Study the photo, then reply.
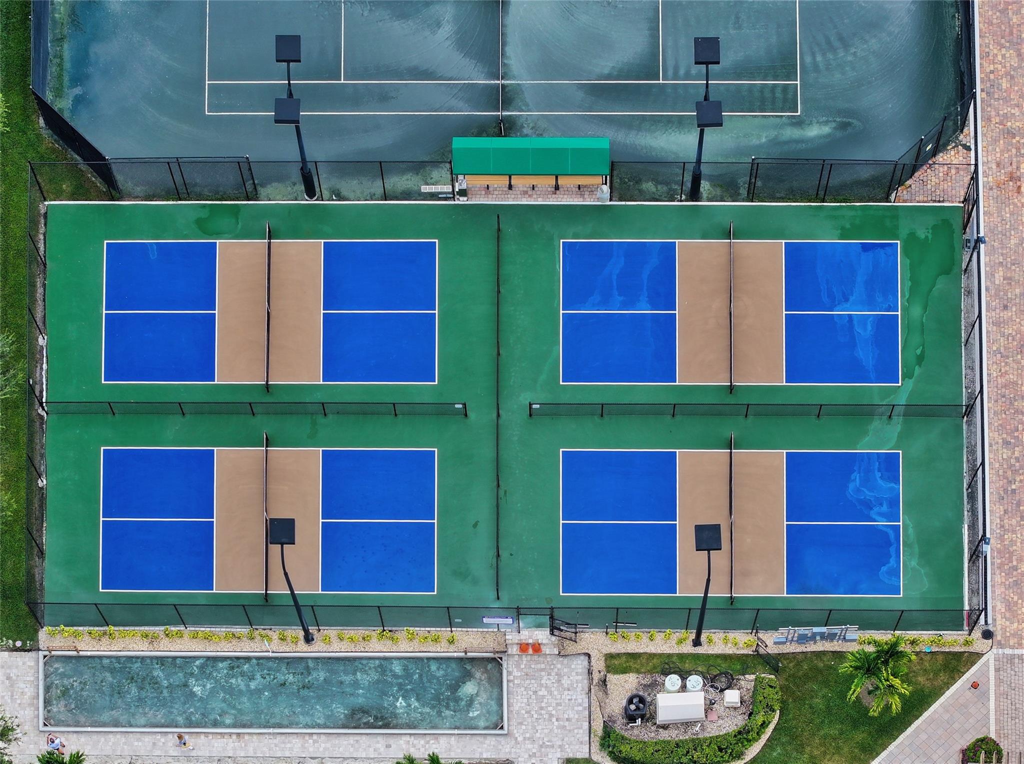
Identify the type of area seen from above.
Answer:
sports ground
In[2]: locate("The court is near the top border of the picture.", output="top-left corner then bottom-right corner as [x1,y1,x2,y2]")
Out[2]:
[48,0,962,202]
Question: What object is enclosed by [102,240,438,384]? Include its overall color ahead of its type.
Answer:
blue sports court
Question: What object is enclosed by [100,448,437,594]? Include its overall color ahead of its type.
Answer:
blue sports court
